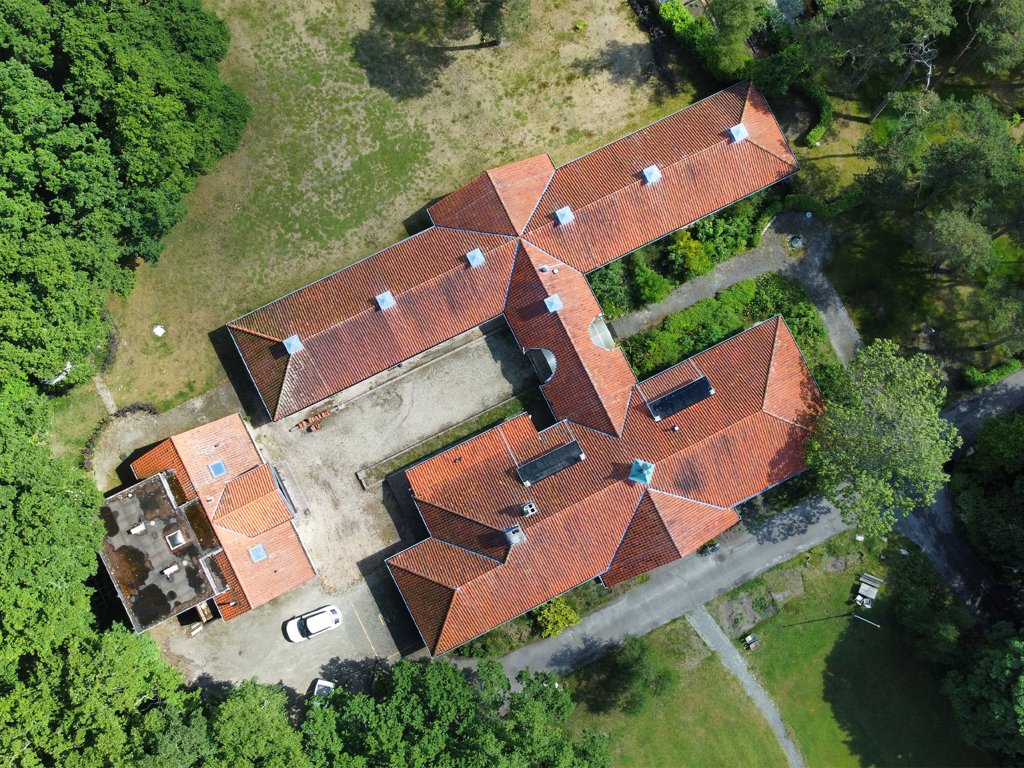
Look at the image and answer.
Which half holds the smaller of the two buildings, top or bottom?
bottom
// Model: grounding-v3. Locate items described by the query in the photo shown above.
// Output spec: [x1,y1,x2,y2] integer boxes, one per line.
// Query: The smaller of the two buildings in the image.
[84,411,318,635]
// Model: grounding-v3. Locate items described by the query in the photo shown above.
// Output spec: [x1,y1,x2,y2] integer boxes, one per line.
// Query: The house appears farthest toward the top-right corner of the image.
[226,77,844,658]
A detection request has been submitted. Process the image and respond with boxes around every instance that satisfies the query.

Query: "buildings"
[84,411,318,635]
[226,77,844,658]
